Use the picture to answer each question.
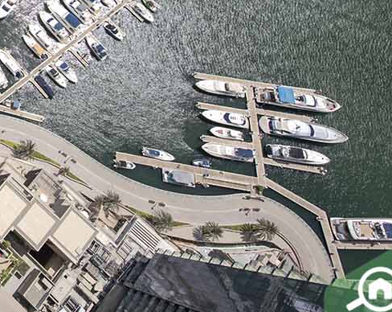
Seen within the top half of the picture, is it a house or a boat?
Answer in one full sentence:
The feature located within the top half of the picture is a boat.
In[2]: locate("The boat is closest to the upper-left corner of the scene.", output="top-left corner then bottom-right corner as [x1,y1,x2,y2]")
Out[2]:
[0,0,19,19]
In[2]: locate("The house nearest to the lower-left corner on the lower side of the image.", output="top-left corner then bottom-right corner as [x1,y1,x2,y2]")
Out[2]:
[21,270,64,309]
